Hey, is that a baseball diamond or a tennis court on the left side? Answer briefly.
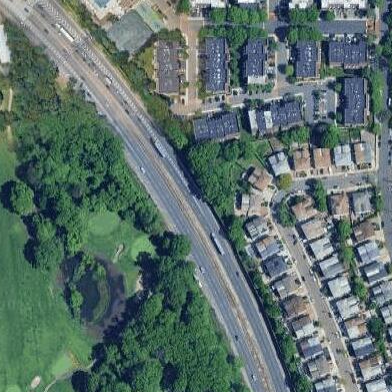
tennis court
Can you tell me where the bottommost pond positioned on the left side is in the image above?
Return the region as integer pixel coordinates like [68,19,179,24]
[65,255,123,329]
